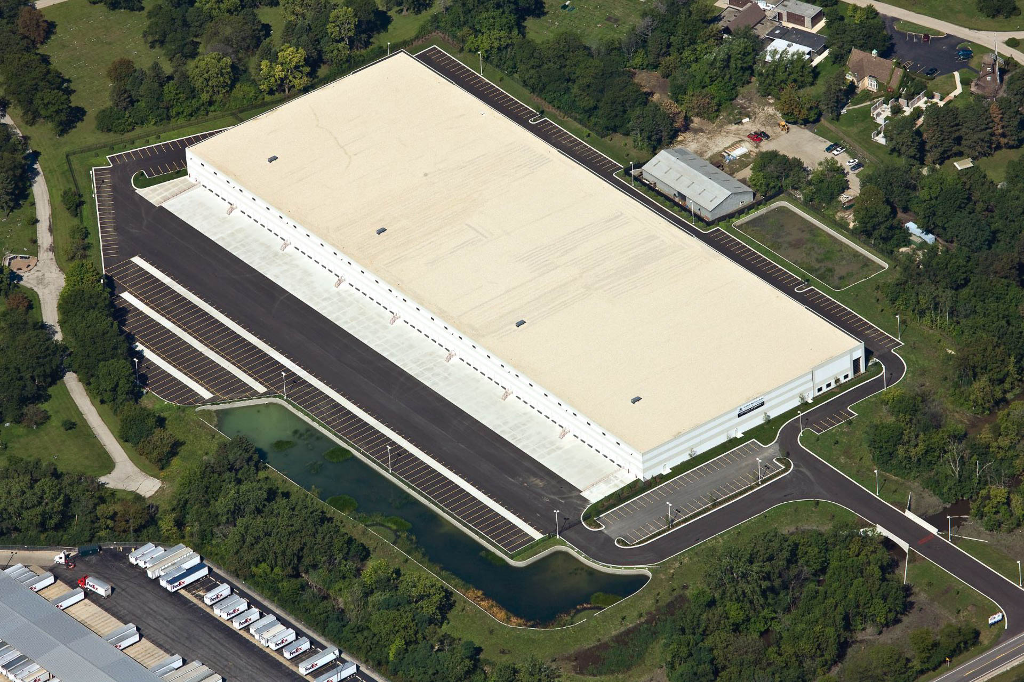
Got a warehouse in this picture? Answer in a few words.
Yes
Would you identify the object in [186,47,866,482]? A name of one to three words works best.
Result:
warehouse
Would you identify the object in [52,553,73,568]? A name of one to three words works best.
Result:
vehicle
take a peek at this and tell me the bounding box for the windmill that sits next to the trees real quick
[969,33,1006,101]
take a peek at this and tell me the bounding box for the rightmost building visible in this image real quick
[903,221,934,245]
